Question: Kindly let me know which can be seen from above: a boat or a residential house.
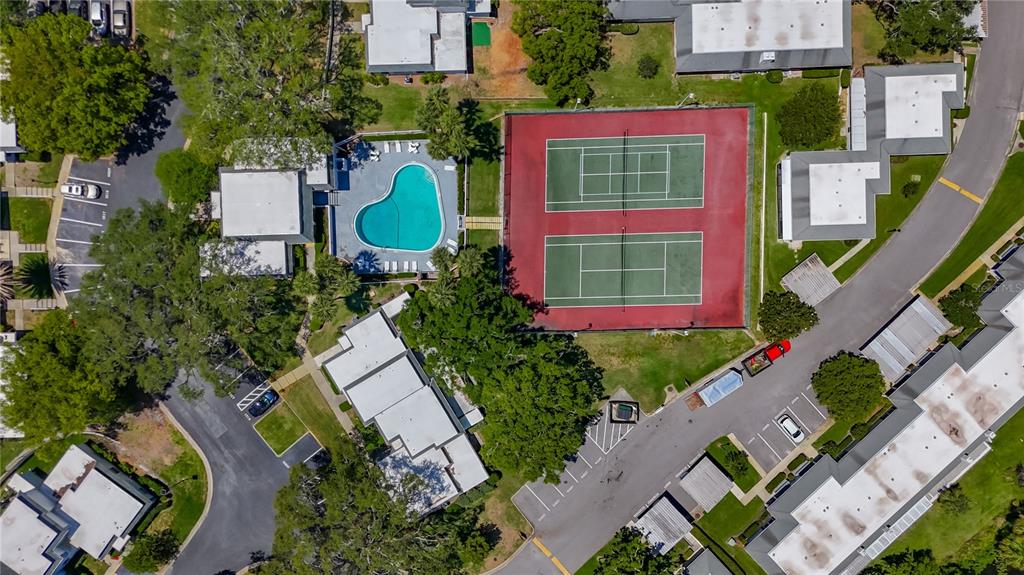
residential house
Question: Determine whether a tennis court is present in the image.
Yes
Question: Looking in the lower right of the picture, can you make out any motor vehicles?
Yes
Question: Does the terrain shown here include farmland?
No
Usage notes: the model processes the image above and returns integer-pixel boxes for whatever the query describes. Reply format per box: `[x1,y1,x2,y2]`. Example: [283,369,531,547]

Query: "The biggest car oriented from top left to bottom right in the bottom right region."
[777,412,805,444]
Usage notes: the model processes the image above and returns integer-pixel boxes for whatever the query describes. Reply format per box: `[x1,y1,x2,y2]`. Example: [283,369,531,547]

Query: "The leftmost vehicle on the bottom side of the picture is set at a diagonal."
[248,389,280,416]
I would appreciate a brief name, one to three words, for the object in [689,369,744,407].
trailer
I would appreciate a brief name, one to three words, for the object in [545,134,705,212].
tennis court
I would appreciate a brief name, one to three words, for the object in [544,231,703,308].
tennis court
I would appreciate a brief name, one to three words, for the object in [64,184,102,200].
car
